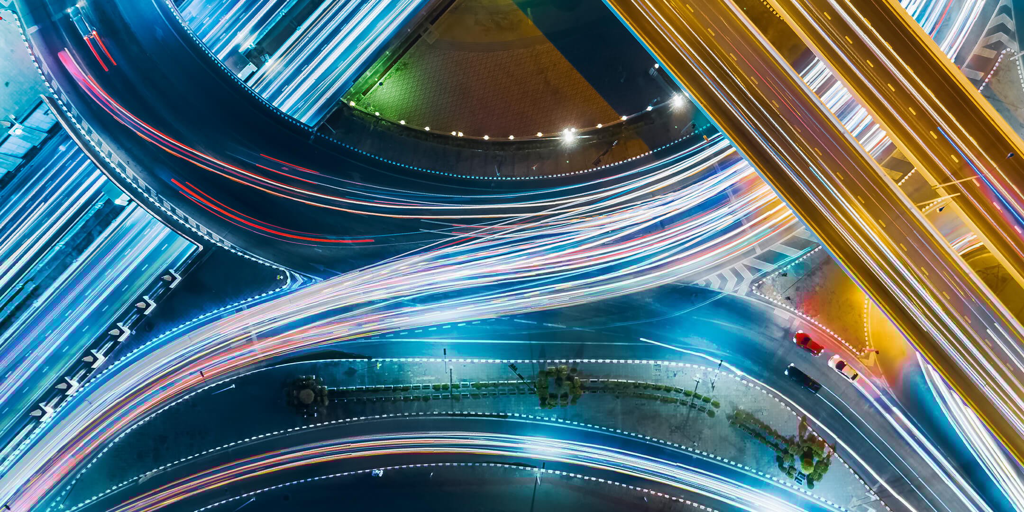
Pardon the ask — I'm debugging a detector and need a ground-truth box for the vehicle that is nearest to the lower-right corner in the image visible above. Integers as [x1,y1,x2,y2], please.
[830,354,861,381]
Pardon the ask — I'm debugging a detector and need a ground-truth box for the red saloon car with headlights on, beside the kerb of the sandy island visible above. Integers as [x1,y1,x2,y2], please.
[795,330,826,356]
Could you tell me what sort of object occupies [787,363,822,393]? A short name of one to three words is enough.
car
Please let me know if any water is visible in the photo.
No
